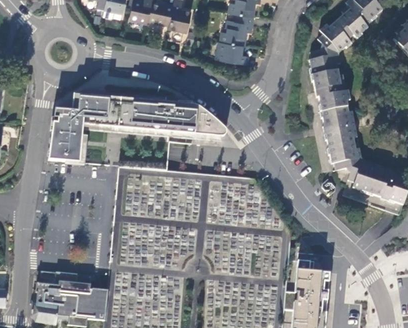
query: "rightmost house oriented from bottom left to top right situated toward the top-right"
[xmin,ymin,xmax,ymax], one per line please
[316,0,384,55]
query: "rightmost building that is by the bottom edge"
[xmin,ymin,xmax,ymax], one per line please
[281,256,332,328]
